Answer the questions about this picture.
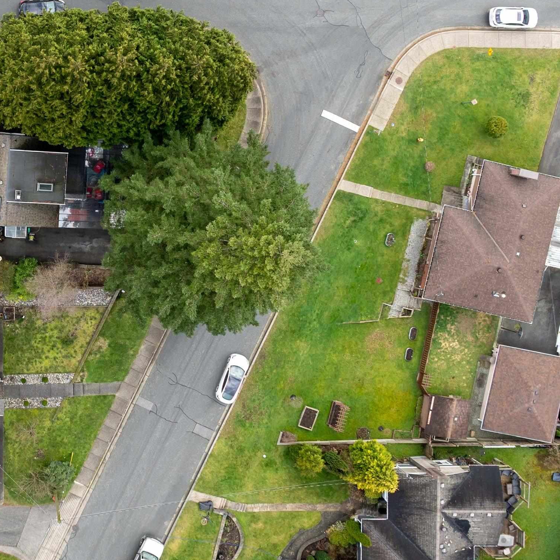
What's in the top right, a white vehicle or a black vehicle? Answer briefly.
white vehicle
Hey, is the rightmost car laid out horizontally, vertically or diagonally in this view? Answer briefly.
horizontally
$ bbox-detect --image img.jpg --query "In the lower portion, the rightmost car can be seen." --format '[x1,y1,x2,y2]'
[214,352,249,404]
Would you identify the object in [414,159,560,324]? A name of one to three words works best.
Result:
house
